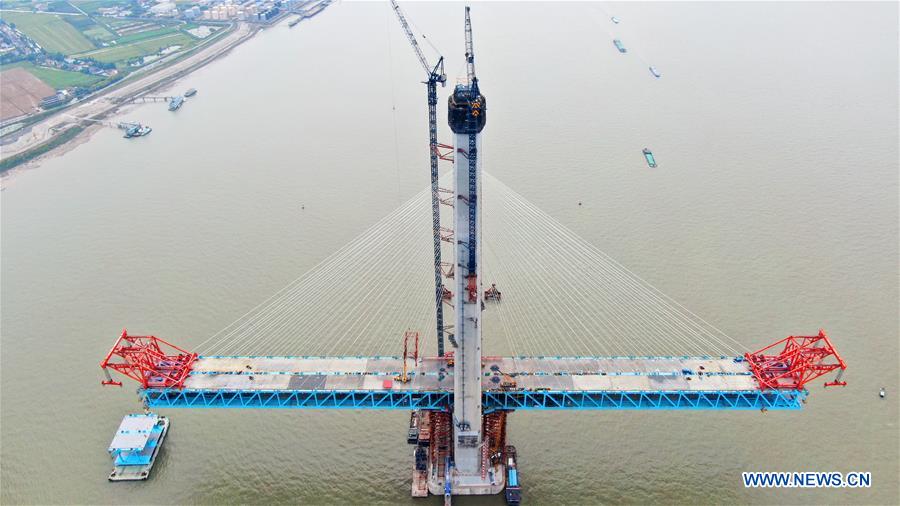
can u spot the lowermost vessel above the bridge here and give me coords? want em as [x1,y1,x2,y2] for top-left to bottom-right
[642,148,659,166]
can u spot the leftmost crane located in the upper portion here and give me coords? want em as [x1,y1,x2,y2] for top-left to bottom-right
[381,0,454,355]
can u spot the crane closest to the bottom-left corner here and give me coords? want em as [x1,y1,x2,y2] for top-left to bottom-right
[98,327,199,391]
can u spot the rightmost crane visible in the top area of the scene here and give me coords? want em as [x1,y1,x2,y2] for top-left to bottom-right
[459,5,480,330]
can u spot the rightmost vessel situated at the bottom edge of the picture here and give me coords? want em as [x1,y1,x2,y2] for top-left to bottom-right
[504,444,522,504]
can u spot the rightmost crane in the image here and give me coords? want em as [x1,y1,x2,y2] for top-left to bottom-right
[745,327,846,391]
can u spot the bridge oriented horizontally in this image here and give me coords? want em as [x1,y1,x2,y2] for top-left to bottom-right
[145,184,802,410]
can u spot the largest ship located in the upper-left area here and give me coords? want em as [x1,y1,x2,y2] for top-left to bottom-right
[115,120,149,139]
